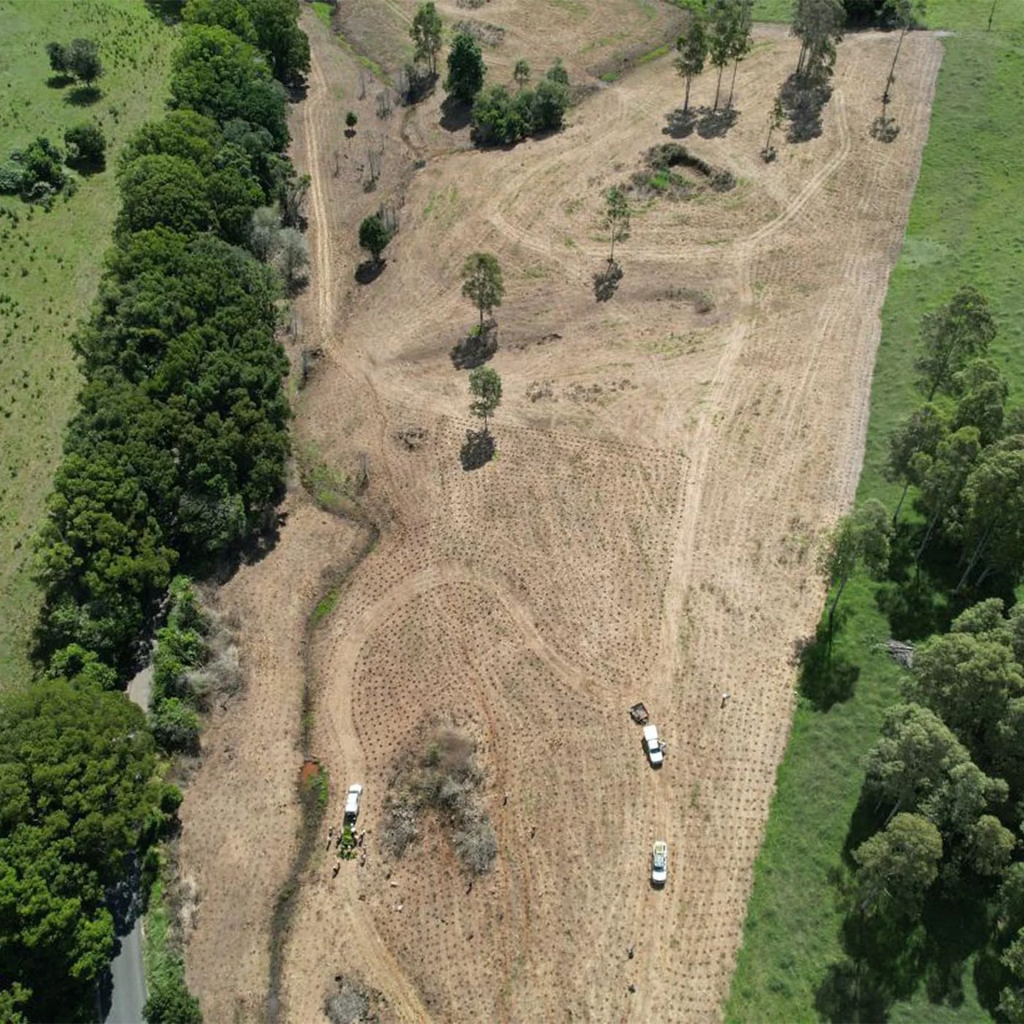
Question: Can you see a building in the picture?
No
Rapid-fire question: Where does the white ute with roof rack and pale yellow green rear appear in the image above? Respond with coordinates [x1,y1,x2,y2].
[651,842,669,885]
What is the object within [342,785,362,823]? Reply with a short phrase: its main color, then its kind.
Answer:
white vehicle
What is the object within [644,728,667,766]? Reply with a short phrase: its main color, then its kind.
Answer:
white truck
